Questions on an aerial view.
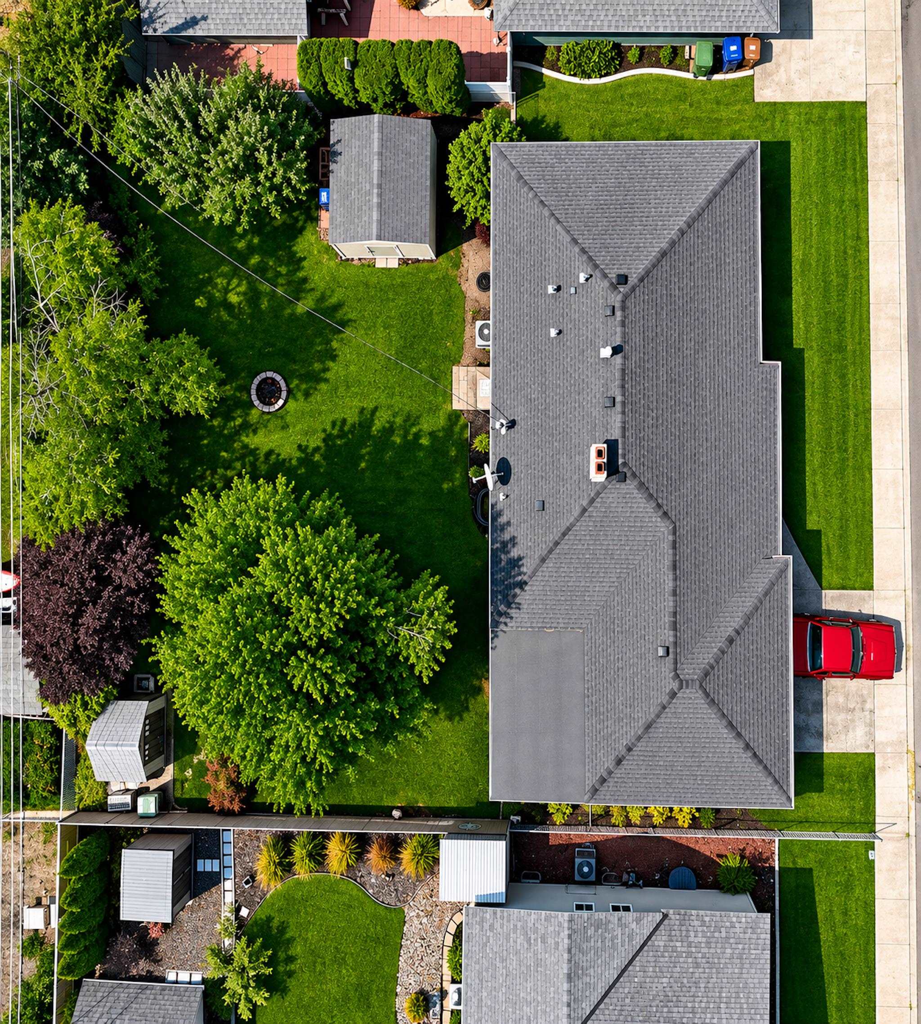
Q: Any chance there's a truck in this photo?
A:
No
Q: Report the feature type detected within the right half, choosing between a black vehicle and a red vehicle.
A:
red vehicle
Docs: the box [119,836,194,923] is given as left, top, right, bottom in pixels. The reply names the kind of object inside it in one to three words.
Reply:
shed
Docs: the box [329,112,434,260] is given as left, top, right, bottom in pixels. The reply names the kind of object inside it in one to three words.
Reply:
shed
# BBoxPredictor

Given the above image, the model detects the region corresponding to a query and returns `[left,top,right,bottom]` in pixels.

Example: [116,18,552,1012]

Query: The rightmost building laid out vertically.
[488,139,797,808]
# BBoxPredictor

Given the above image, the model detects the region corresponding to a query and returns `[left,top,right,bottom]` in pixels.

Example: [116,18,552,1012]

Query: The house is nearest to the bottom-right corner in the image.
[457,882,772,1024]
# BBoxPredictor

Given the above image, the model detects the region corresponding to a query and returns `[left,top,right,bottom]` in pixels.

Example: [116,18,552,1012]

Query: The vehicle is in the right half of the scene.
[797,618,897,683]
